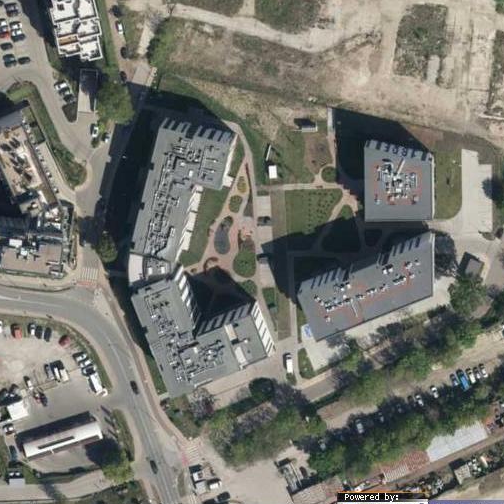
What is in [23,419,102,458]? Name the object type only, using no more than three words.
building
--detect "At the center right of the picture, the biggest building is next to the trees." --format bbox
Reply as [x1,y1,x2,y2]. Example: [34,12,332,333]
[298,231,434,341]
